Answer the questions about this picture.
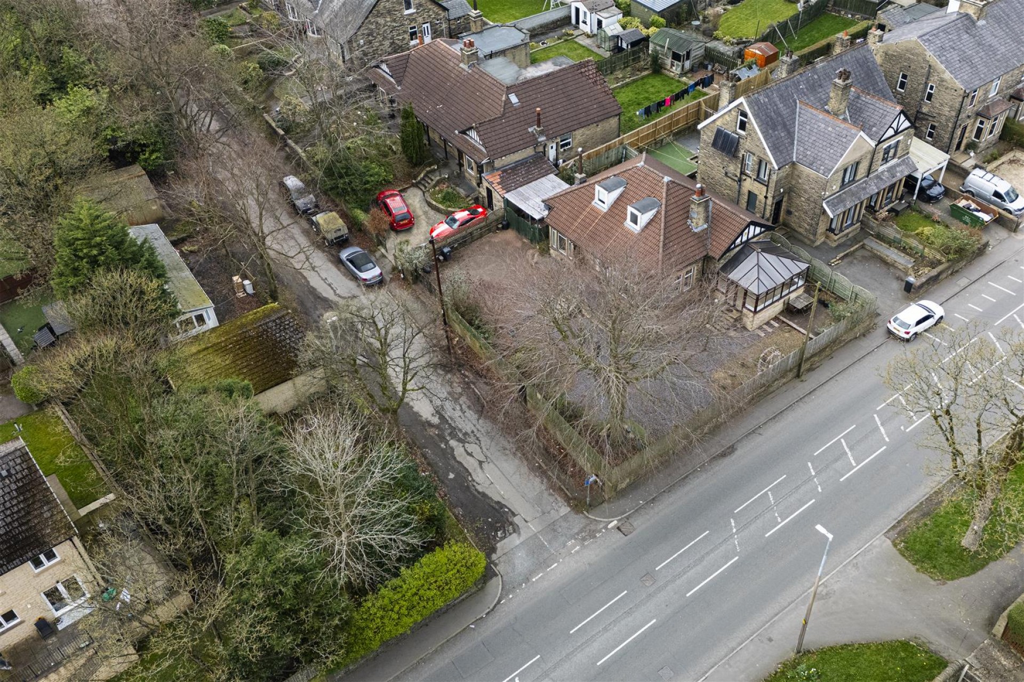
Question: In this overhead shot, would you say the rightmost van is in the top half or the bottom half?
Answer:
top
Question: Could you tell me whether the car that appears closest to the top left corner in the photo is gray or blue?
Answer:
gray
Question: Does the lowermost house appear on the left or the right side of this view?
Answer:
left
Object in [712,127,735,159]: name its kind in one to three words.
solar panel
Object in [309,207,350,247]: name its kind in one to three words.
vehicle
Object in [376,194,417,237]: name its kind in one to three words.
car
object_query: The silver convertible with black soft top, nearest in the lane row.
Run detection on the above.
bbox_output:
[340,245,387,287]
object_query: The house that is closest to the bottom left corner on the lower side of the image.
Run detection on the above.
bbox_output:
[0,409,98,637]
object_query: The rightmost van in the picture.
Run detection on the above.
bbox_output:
[965,164,1024,215]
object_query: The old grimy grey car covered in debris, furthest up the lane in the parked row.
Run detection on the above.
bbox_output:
[277,176,319,212]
